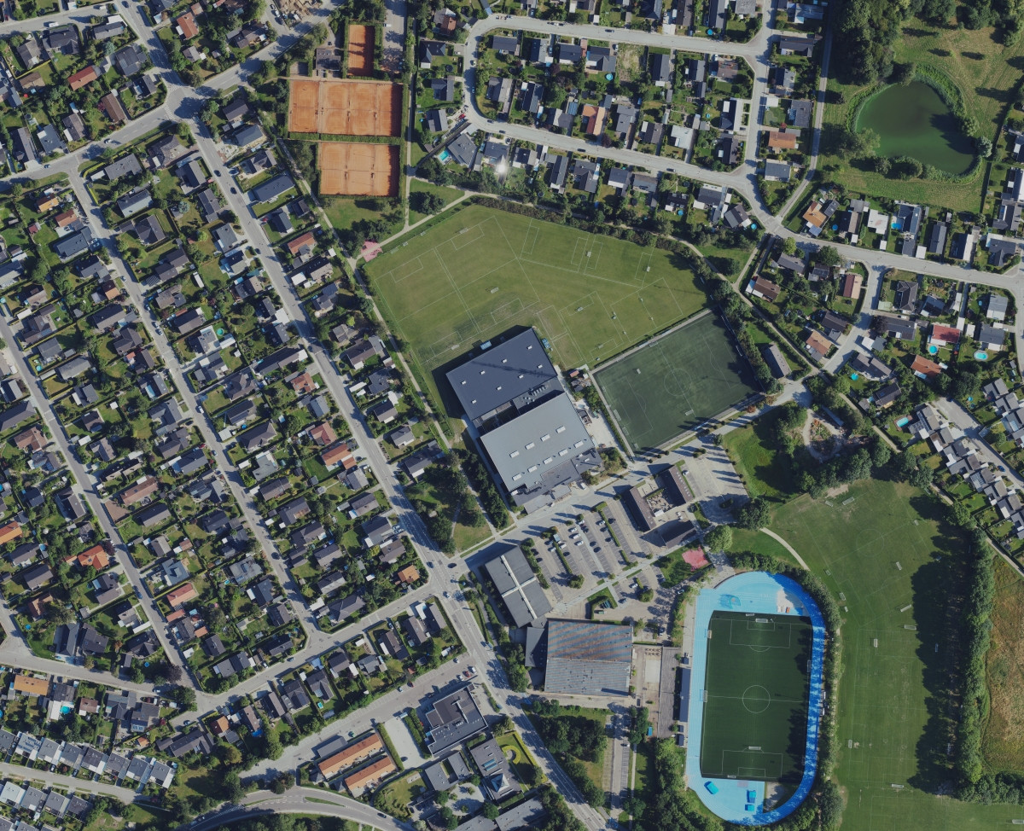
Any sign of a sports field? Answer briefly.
Yes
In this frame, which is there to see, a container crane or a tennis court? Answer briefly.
tennis court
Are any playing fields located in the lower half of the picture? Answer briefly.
Yes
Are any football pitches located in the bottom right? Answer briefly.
Yes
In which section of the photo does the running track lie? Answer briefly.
bottom right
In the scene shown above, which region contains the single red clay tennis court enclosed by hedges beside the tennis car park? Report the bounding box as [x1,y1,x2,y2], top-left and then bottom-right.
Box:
[348,25,373,75]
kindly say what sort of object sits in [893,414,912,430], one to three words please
swimming pool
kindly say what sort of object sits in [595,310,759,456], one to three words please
soccer field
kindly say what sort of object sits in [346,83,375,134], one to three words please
tennis court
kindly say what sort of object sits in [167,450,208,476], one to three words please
house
